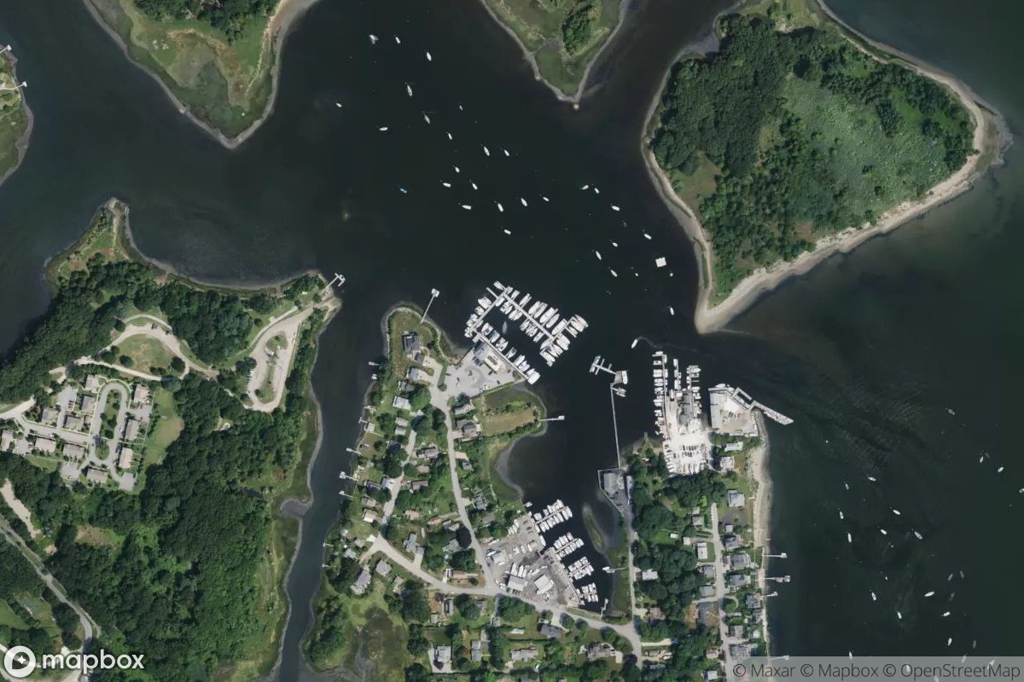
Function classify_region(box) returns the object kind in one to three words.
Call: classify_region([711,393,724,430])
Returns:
shed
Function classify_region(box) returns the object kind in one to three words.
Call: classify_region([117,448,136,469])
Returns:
house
